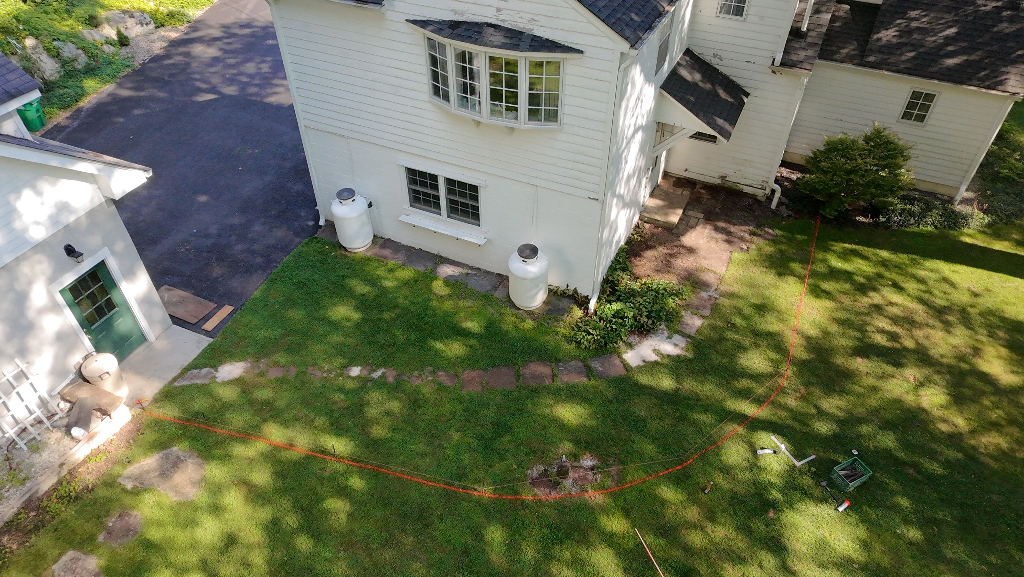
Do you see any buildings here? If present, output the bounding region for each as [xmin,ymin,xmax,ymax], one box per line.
[244,0,1024,302]
[0,43,171,463]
